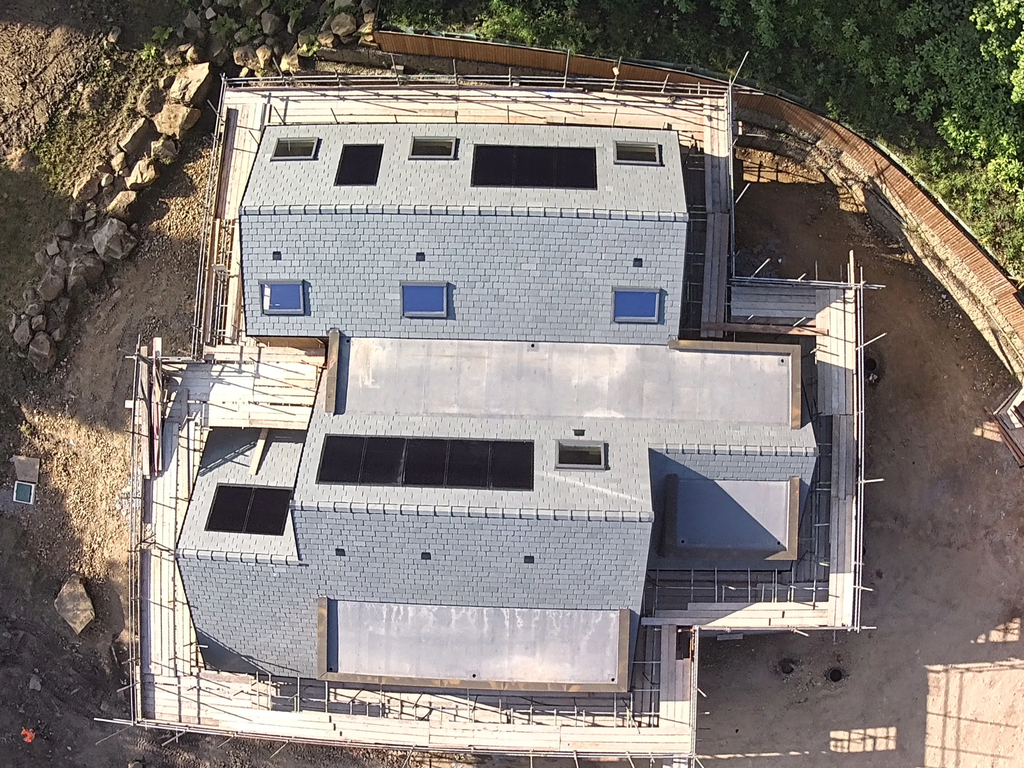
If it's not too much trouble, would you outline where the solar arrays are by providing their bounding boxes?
[315,435,534,490]
[205,485,293,533]
[334,144,384,185]
[471,146,597,188]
